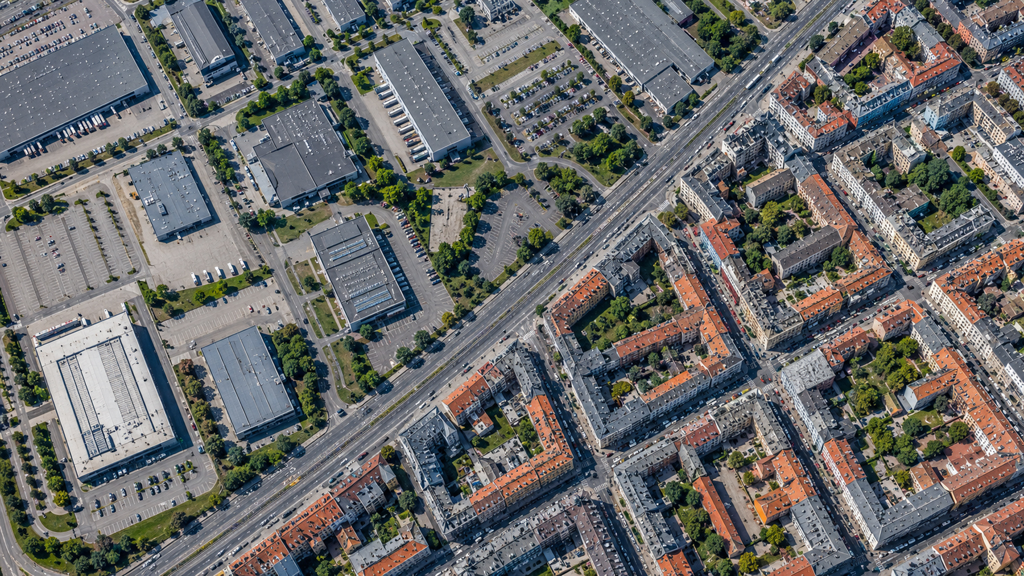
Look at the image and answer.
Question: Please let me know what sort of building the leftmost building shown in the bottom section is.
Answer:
warehouse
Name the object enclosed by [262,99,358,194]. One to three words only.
building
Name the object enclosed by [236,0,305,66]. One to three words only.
building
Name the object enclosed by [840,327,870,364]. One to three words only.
house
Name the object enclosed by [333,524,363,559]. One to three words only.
house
